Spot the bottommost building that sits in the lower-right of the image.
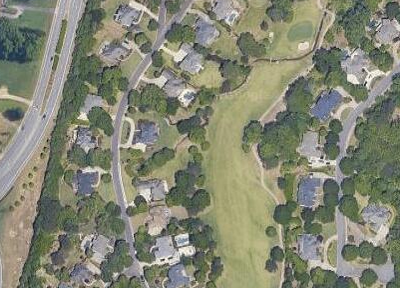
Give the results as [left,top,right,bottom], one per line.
[299,234,321,259]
